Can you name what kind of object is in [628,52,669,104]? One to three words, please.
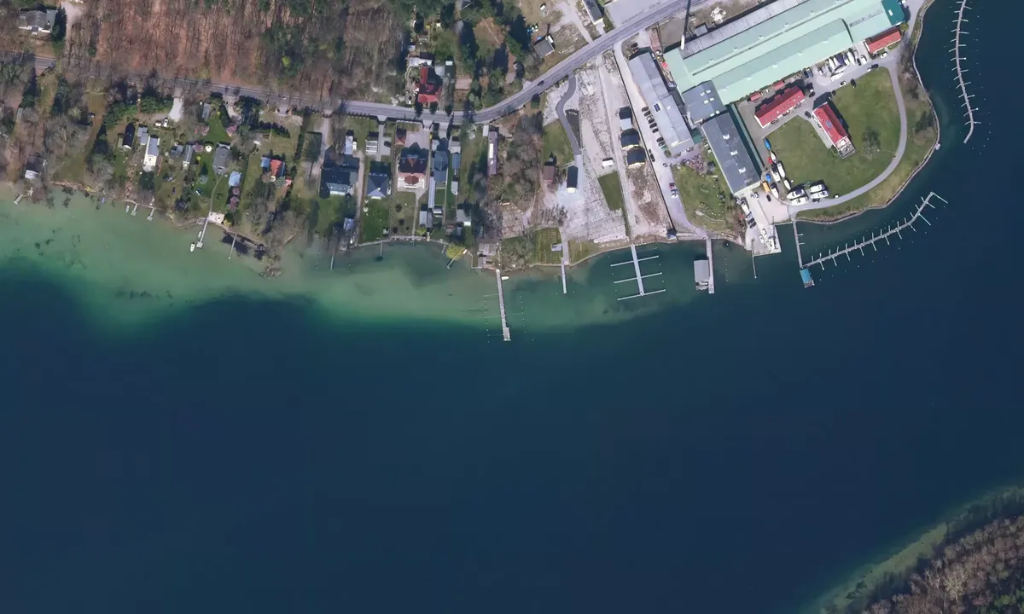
building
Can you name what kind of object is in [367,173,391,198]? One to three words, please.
house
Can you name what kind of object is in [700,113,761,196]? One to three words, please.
building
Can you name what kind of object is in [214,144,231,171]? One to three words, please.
house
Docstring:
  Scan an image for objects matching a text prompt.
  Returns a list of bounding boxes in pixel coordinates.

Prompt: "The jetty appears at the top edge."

[949,0,982,143]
